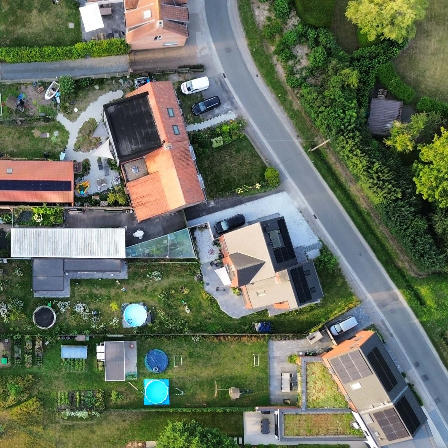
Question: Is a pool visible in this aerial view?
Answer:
Yes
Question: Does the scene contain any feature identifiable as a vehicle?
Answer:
Yes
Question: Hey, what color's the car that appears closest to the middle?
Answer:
black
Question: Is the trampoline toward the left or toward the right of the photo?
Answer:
left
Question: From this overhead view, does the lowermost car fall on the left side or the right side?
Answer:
right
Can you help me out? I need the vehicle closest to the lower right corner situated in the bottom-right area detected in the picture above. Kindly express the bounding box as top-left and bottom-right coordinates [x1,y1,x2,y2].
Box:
[327,316,361,336]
